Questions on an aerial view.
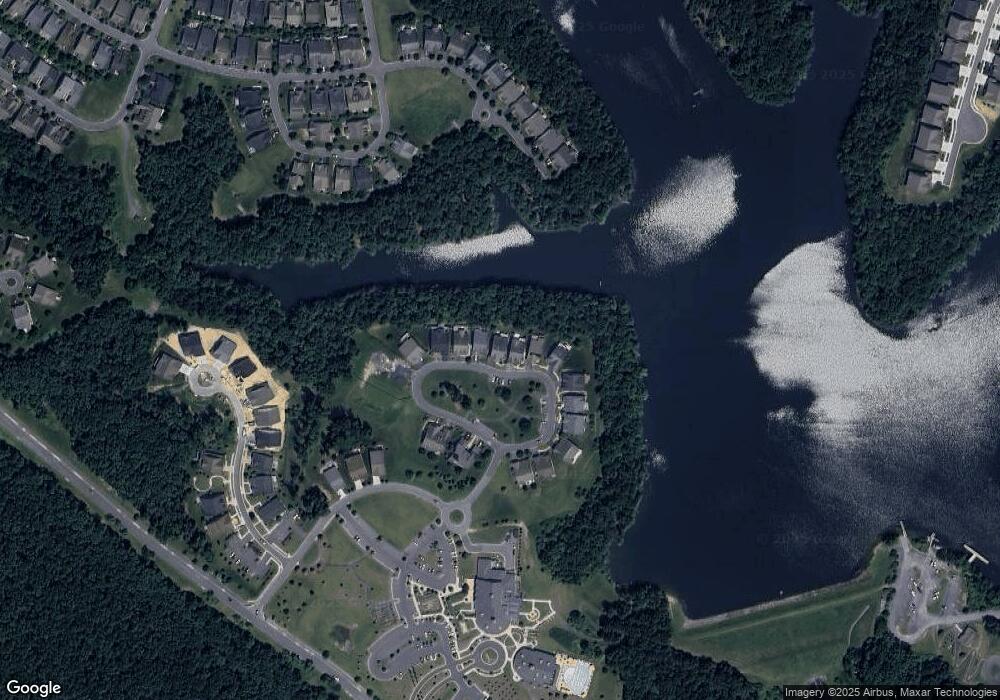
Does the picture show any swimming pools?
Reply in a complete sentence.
Yes, you can see a swimming pool in this photo.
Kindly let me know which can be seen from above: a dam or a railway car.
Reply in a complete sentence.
The one in the frame is a dam.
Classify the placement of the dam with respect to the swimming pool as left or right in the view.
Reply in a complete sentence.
Relative to the swimming pool, the dam is on the right.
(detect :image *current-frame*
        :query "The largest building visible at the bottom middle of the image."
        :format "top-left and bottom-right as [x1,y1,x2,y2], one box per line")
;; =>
[475,556,521,636]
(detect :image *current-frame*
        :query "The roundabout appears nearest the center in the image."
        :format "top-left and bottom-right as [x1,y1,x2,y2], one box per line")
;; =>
[440,500,474,533]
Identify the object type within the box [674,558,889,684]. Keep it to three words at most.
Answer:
dam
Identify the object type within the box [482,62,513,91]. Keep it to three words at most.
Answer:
house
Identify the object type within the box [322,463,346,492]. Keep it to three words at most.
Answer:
house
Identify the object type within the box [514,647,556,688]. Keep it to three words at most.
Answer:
building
